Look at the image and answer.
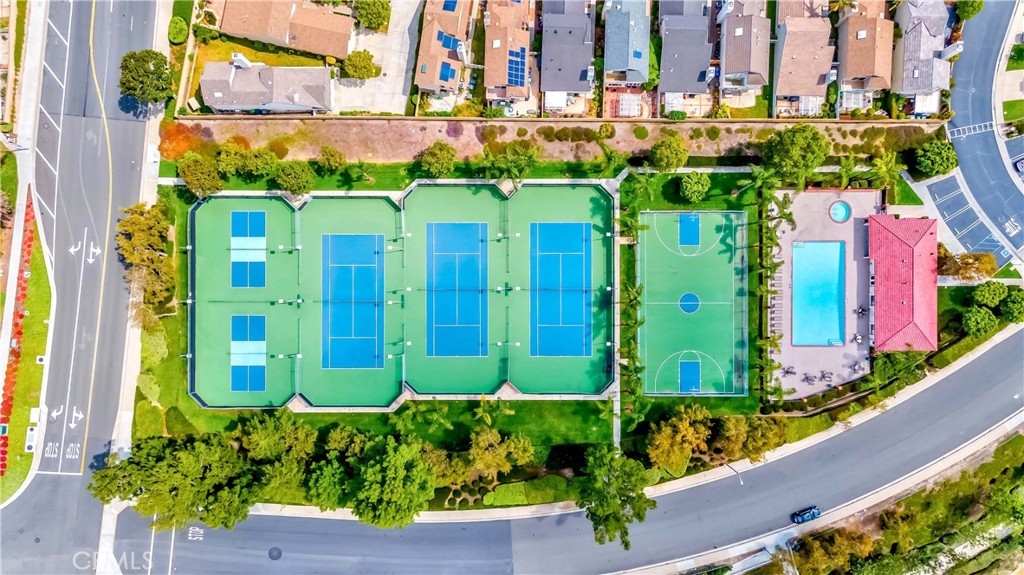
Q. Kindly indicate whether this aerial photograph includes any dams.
No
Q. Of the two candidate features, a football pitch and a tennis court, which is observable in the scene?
tennis court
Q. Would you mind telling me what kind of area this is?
residential area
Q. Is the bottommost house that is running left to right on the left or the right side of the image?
left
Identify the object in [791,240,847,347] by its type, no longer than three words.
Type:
swimming pool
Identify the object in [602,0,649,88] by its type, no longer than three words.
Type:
house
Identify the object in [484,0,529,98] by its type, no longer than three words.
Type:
house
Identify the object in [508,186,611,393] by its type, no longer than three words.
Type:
tennis court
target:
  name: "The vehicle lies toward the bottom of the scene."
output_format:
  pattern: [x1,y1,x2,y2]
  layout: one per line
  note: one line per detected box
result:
[792,507,821,526]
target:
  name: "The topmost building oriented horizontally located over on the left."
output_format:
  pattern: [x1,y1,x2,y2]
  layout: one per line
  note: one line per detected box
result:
[220,0,357,61]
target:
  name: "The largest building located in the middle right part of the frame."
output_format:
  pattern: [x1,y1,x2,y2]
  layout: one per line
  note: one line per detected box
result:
[858,214,938,352]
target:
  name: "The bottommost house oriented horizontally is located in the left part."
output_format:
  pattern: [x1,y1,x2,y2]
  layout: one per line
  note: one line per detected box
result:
[201,51,335,112]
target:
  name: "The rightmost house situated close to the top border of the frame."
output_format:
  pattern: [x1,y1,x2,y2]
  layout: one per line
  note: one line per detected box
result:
[889,0,966,99]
